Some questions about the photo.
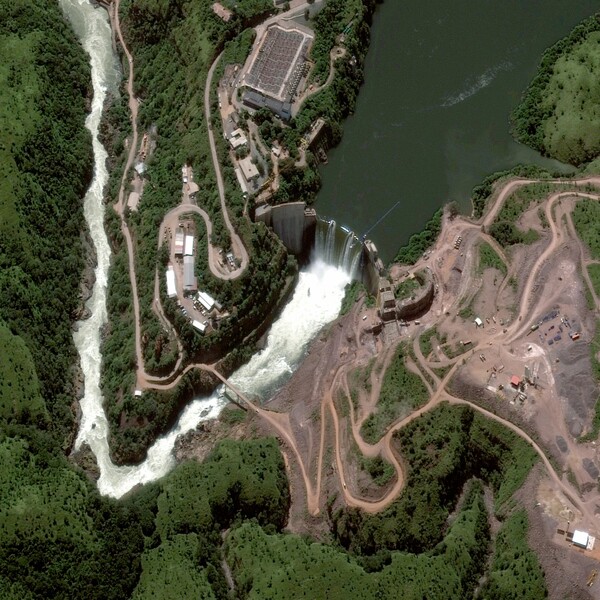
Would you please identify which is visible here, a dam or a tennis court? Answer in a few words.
dam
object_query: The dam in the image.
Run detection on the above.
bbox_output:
[256,200,388,301]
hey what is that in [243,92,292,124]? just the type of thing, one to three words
building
